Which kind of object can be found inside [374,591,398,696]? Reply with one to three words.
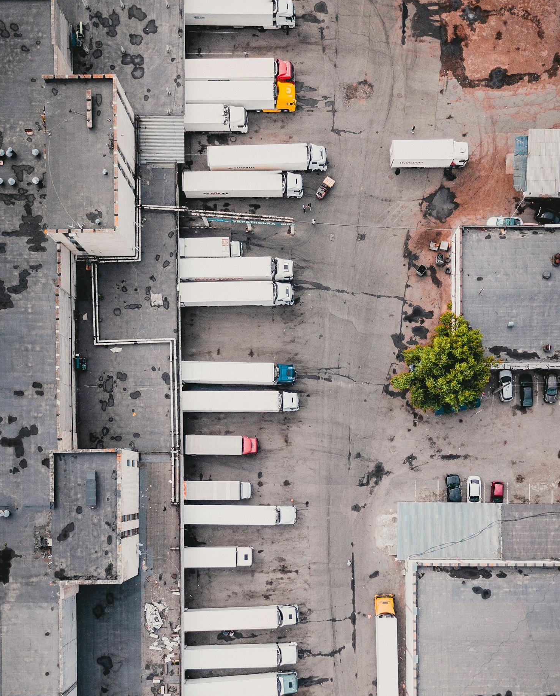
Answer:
truck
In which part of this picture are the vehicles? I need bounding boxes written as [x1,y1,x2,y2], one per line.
[534,209,560,225]
[490,479,505,503]
[317,180,331,201]
[184,390,301,414]
[186,671,300,696]
[185,80,297,112]
[374,591,398,696]
[186,435,260,456]
[206,144,329,173]
[186,603,300,631]
[186,643,299,670]
[185,0,297,30]
[186,503,297,526]
[437,396,478,418]
[542,373,560,405]
[183,170,304,200]
[390,140,470,169]
[183,257,295,282]
[183,281,295,307]
[445,474,462,502]
[183,238,245,258]
[186,545,255,568]
[184,362,297,385]
[182,479,254,501]
[184,104,249,134]
[519,373,535,408]
[185,58,296,89]
[466,475,483,502]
